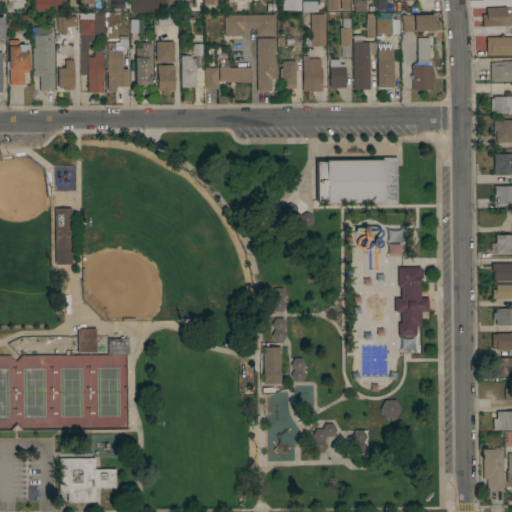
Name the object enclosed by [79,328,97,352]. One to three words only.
building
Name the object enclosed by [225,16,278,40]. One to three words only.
house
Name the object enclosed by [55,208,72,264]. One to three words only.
building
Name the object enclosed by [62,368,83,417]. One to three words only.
tennis court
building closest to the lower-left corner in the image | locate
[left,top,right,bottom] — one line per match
[60,458,118,503]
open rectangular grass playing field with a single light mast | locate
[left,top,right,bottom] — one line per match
[138,333,238,506]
